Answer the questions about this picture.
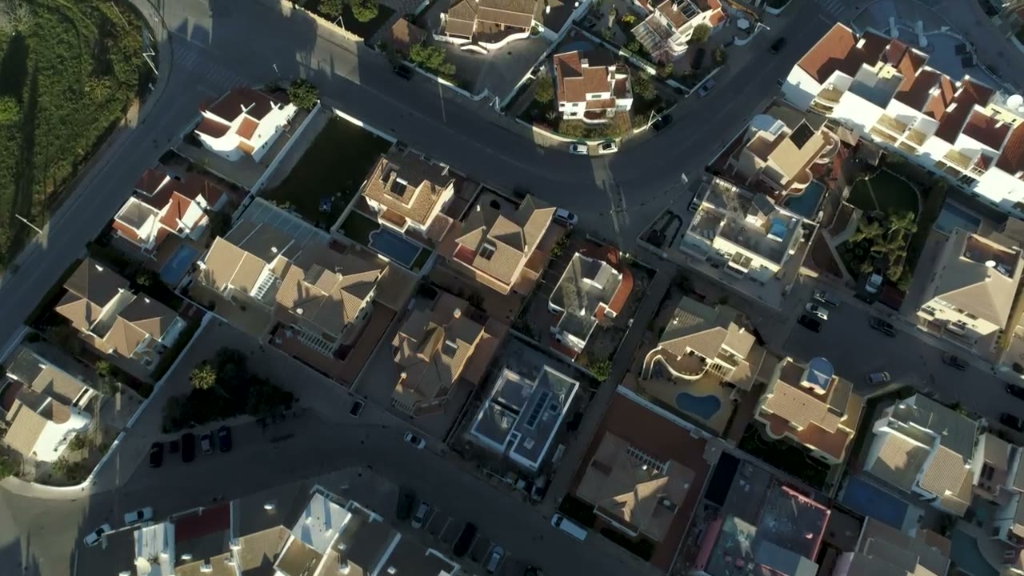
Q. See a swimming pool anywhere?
Yes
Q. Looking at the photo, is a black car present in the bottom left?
Yes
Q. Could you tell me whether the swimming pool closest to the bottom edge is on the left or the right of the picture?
right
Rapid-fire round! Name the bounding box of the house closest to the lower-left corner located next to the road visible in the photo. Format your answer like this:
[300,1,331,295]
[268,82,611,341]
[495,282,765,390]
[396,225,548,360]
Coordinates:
[84,538,142,576]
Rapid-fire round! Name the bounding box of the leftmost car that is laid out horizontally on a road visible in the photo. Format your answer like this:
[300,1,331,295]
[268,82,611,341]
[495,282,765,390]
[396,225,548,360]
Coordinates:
[121,507,153,525]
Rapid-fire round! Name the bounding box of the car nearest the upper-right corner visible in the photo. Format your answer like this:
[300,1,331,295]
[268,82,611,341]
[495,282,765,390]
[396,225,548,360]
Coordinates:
[769,35,788,55]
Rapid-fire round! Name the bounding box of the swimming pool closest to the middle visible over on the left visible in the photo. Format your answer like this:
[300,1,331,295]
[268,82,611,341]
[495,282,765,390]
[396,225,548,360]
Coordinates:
[367,224,425,270]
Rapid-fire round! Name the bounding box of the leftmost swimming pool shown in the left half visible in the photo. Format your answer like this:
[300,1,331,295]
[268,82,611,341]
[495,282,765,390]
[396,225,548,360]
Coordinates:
[157,245,202,286]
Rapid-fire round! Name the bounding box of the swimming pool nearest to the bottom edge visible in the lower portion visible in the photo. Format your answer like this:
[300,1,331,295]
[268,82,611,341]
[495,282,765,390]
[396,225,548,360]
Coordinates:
[949,527,991,576]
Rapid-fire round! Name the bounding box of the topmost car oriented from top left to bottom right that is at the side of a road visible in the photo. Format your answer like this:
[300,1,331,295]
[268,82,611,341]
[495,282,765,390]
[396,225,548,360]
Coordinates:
[392,62,416,80]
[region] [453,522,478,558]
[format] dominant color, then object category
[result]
black car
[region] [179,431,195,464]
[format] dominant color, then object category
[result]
black vehicle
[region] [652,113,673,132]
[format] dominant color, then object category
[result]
black car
